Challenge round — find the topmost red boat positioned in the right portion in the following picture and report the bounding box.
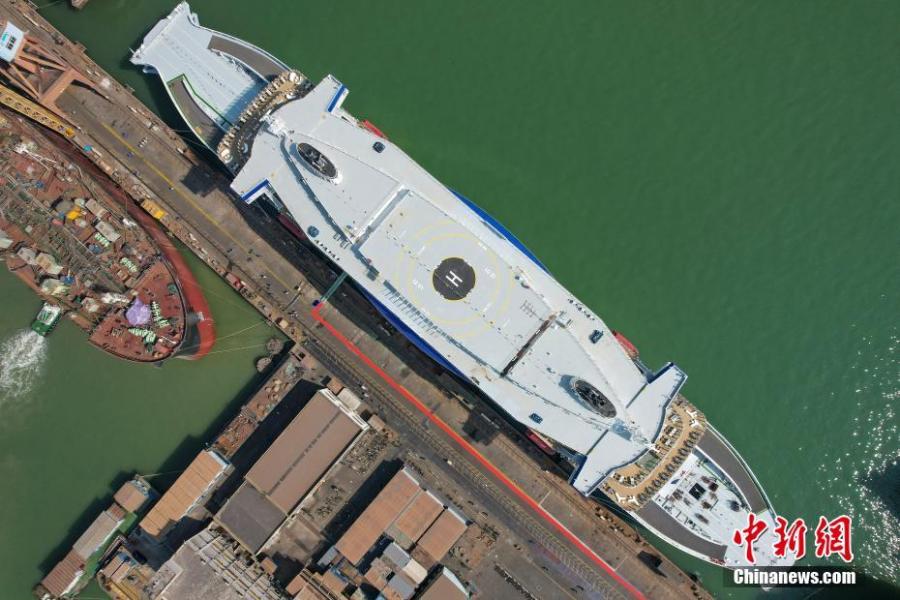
[613,333,635,360]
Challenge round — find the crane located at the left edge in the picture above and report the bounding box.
[0,11,106,128]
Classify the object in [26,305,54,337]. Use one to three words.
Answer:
boat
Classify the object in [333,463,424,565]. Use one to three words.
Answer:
building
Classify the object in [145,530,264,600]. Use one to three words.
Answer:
building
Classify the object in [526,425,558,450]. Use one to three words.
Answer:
boat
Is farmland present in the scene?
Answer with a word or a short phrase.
No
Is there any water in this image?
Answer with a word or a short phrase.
Yes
